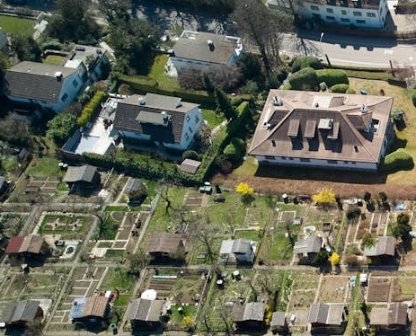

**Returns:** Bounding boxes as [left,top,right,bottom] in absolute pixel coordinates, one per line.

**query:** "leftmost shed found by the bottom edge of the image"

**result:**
[2,299,52,329]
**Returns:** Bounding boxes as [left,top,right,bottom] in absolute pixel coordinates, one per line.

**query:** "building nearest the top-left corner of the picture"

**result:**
[6,46,110,118]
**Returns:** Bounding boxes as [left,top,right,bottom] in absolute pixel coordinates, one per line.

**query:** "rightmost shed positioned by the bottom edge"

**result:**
[370,302,410,333]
